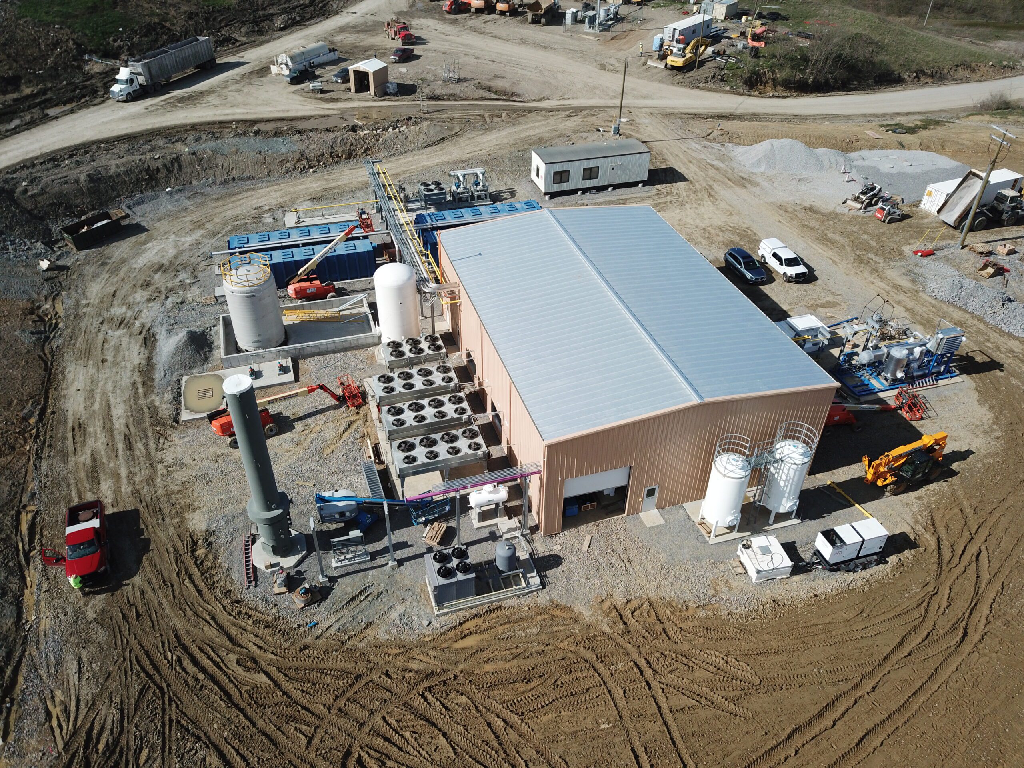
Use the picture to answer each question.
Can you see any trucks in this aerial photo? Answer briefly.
Yes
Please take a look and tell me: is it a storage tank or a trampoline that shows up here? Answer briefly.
storage tank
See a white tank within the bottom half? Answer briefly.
Yes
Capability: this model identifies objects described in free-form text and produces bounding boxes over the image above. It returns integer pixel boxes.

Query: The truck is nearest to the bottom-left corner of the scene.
[41,499,111,586]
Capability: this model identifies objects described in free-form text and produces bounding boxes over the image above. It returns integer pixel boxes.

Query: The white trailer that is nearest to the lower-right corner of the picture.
[797,515,890,567]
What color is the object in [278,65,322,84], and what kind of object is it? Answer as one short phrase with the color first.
black vehicle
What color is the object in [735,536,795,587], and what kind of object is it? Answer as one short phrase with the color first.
white storage tank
